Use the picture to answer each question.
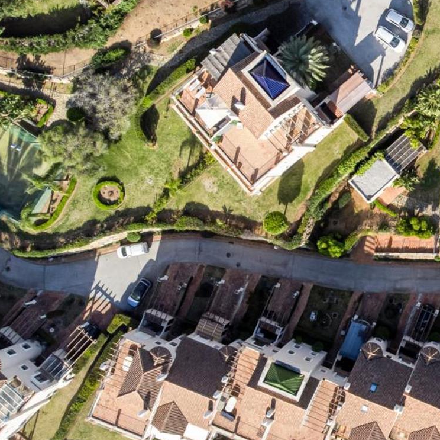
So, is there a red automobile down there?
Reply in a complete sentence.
No, the frame has no red automobile in it.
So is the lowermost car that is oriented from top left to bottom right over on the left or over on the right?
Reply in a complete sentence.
The lowermost car that is oriented from top left to bottom right appears in the right half of the scene.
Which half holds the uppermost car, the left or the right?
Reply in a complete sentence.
The uppermost car sits on the right side.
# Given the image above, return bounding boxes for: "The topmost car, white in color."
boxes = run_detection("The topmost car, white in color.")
[380,7,419,35]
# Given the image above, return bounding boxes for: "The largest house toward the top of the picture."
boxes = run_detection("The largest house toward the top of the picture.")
[168,34,374,195]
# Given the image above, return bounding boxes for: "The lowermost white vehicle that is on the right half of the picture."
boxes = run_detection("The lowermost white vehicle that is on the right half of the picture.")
[370,23,409,55]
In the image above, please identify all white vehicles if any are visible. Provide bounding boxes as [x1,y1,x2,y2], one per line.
[370,23,409,55]
[116,242,151,260]
[380,7,419,35]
